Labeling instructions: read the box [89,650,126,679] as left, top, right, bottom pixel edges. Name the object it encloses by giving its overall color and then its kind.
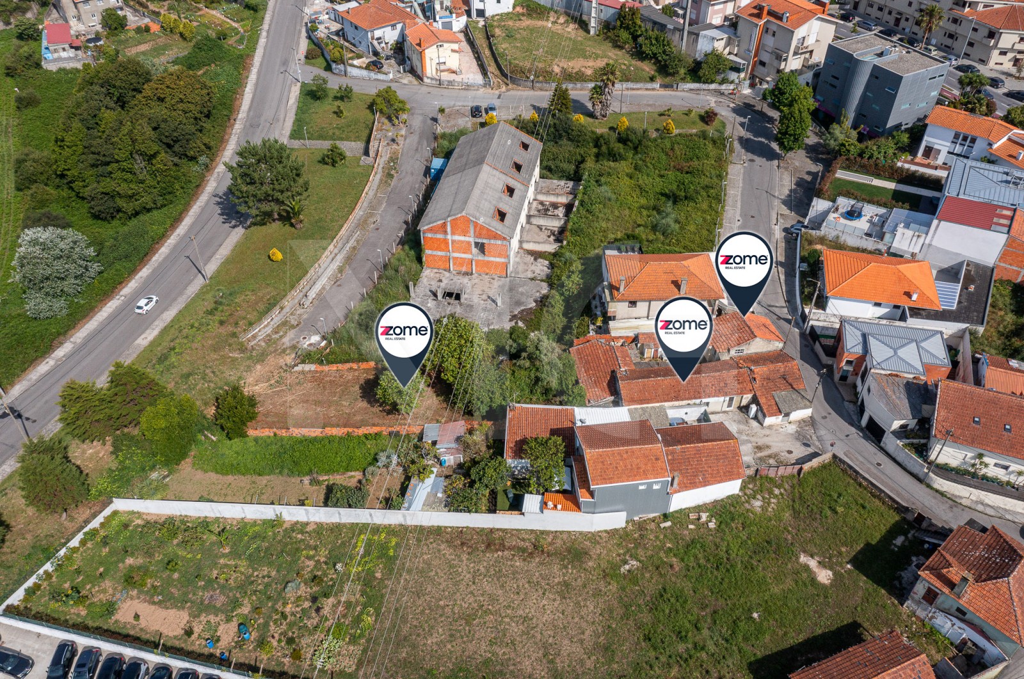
black car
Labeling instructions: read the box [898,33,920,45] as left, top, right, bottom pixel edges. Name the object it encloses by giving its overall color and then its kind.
black vehicle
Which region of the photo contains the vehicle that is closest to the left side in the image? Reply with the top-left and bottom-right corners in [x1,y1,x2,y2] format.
[0,644,30,675]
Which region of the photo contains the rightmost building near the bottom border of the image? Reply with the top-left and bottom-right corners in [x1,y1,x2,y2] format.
[904,522,1024,675]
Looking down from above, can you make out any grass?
Yes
